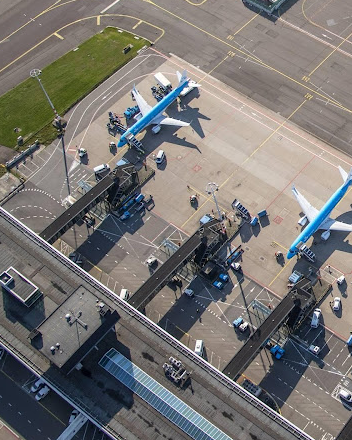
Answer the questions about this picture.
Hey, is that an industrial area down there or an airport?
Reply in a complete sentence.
This looks like an airport.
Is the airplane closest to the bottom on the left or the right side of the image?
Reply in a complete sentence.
The airplane closest to the bottom is on the right side of the image.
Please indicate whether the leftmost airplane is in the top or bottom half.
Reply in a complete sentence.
It is in the top half that the leftmost airplane appears.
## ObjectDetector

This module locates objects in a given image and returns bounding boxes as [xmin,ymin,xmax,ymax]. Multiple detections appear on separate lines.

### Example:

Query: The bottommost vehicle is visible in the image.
[66,408,80,424]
